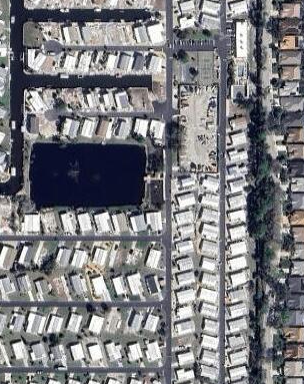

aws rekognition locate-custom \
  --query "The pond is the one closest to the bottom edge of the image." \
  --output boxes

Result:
[29,143,147,206]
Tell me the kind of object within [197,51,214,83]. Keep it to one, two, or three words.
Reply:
tennis court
